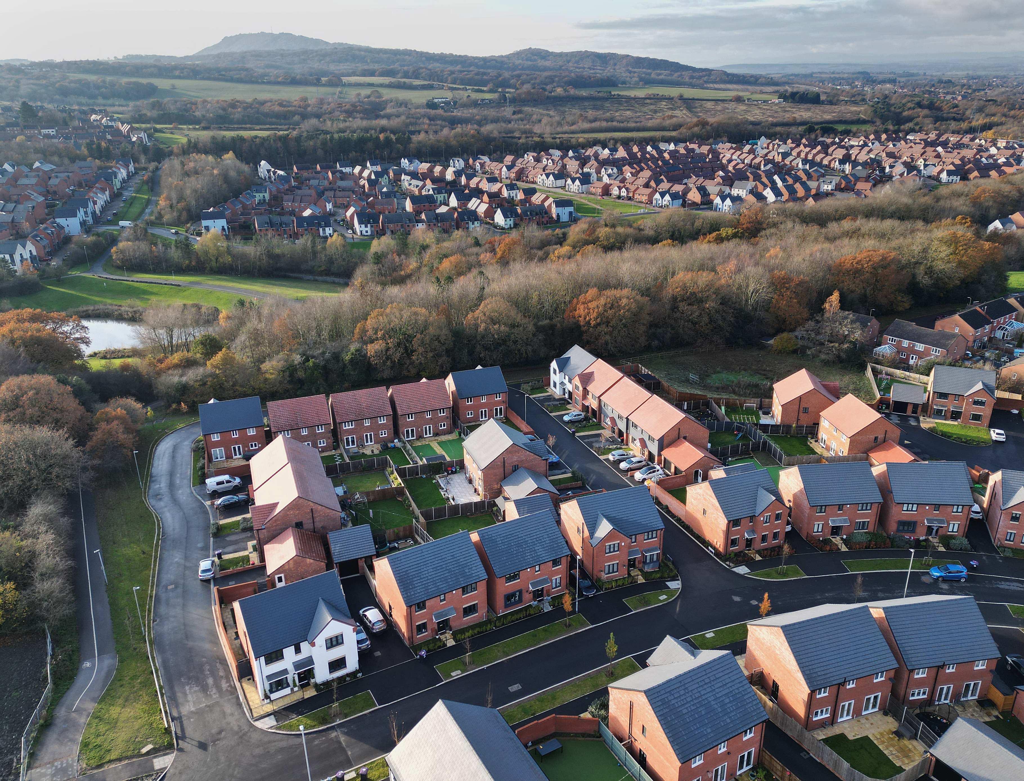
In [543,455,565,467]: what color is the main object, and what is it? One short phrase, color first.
blue vehicle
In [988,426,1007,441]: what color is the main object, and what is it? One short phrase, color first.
white car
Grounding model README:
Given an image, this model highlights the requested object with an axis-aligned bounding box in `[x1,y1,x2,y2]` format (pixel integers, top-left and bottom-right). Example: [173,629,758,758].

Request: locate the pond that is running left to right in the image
[51,317,216,355]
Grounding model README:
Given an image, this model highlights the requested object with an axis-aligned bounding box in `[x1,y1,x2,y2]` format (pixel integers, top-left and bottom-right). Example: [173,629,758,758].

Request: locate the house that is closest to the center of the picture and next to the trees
[445,361,508,424]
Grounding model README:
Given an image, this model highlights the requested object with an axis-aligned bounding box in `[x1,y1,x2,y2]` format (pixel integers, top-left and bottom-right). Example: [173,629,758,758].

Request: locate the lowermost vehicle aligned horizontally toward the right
[931,565,971,583]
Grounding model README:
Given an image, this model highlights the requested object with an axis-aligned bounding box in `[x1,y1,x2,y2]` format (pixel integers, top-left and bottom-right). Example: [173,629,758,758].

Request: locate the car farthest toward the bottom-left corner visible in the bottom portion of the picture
[198,557,215,579]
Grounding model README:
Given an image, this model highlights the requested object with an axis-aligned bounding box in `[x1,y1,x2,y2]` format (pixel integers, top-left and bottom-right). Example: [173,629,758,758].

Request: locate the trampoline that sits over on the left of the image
[372,527,394,550]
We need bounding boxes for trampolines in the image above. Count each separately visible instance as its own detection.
[911,691,960,736]
[372,527,394,550]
